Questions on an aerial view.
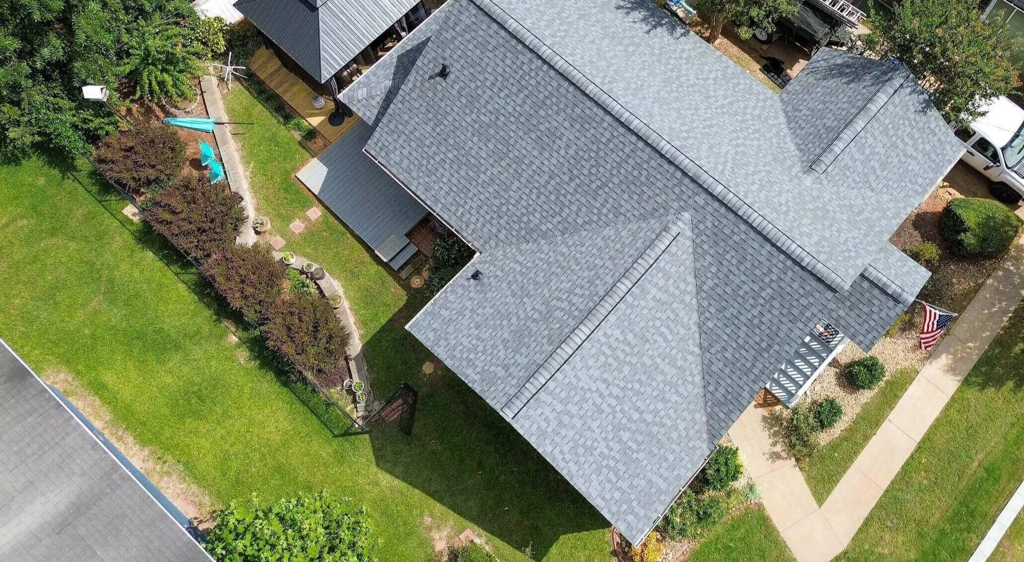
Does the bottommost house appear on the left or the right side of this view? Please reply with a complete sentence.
The bottommost house sits on the left side.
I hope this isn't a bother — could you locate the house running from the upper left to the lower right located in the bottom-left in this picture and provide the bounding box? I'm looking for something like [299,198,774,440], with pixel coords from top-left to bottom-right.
[0,336,220,562]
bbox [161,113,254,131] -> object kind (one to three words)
umbrella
